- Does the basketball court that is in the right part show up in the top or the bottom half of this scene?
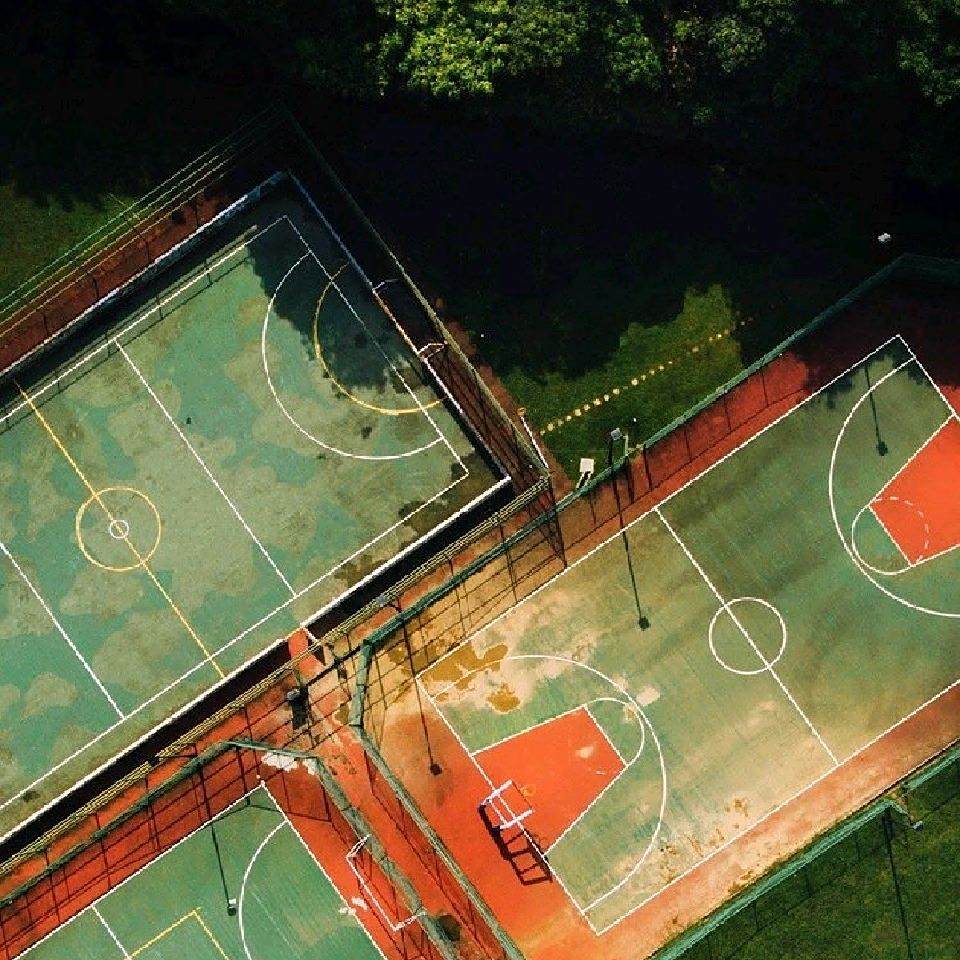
bottom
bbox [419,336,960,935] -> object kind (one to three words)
basketball court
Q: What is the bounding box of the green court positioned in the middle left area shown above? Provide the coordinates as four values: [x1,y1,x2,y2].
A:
[0,175,503,834]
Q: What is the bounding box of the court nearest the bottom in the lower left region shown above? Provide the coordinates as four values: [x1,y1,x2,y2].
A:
[12,782,388,960]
